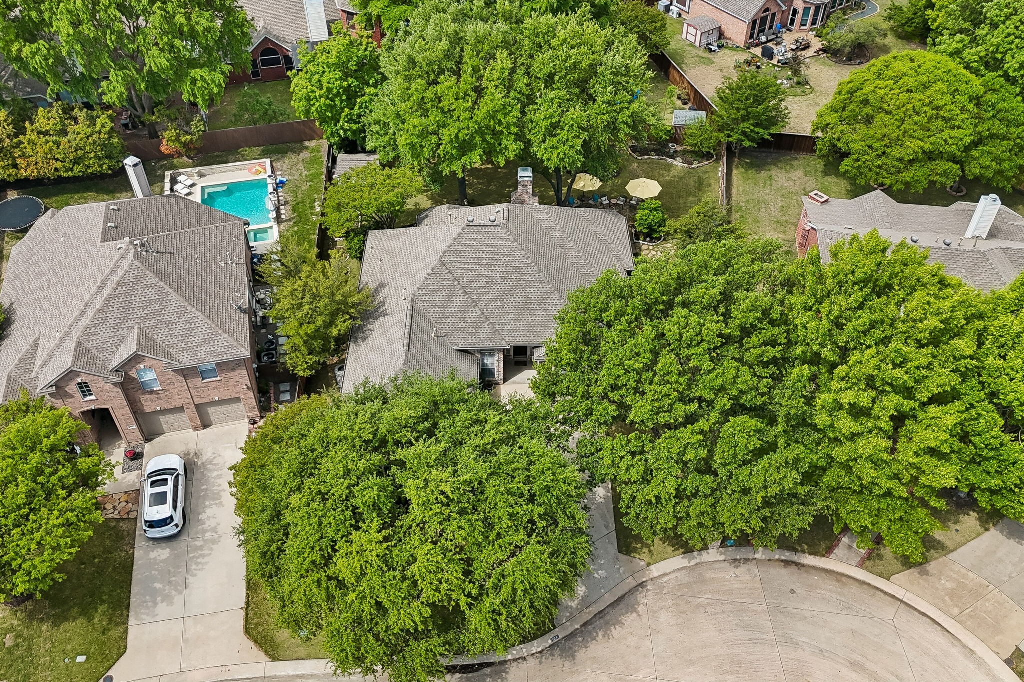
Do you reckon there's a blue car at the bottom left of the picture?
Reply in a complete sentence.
No, I can find no blue car at the bottom left of the picture.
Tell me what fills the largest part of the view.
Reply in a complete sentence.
For the most part, this view shows trees.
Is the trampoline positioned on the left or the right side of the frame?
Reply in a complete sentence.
The trampoline appears in the left half of the scene.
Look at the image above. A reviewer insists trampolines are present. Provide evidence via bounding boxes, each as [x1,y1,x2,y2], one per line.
[0,199,50,237]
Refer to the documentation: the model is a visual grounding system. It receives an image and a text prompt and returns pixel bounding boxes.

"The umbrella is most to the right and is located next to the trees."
[626,180,662,202]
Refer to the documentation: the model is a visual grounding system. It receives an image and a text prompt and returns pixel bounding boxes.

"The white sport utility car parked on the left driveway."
[138,459,189,546]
